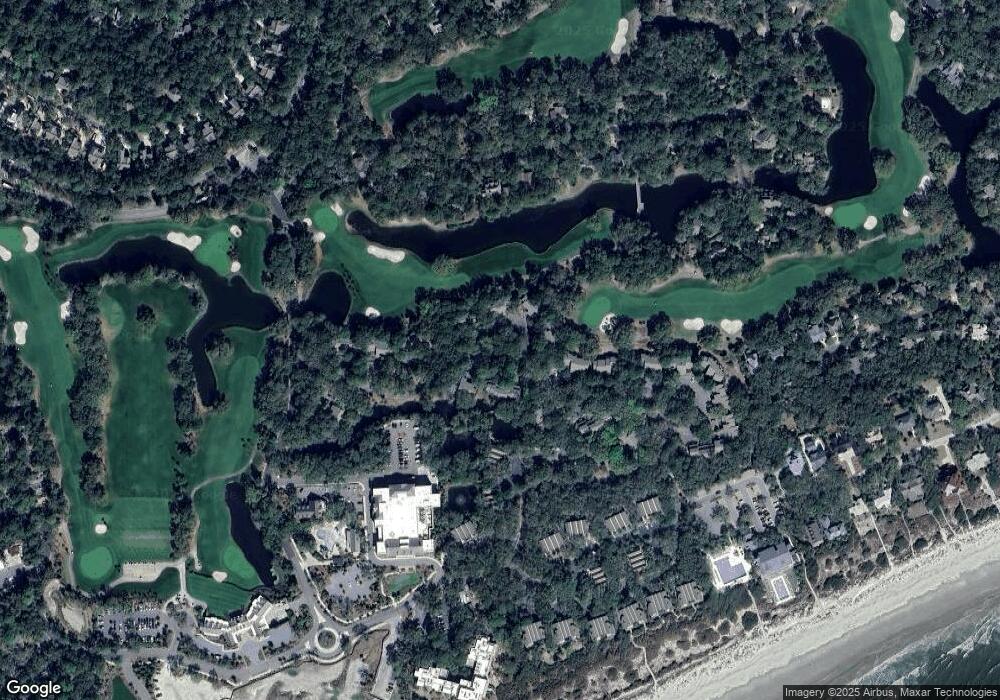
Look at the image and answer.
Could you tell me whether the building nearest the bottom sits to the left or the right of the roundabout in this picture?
to its right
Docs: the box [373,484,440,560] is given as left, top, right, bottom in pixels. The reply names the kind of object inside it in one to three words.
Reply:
building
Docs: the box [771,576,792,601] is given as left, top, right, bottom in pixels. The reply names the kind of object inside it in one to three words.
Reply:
swimming pool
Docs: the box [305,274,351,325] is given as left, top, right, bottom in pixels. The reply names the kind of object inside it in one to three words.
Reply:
pond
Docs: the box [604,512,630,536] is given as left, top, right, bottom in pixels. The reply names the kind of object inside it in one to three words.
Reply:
house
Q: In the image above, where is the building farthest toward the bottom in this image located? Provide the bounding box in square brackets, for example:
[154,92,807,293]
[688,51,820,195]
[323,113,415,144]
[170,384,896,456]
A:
[413,636,495,700]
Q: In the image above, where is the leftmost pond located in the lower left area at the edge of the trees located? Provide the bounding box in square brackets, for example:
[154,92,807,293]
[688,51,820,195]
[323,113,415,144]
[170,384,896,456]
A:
[226,481,274,587]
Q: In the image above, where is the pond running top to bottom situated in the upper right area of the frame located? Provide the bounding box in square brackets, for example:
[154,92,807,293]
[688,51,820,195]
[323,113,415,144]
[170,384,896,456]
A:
[915,77,1000,266]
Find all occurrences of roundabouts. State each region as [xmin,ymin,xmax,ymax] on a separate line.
[307,620,347,660]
